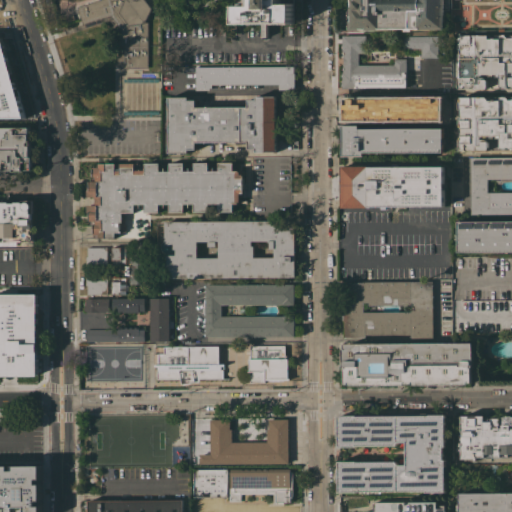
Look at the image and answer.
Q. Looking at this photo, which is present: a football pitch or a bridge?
football pitch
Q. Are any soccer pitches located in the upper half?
No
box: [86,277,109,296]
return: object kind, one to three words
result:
house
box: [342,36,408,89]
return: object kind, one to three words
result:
house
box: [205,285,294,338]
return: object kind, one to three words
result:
building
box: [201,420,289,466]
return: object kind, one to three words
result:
building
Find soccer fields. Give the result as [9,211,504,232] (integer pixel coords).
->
[91,416,179,465]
